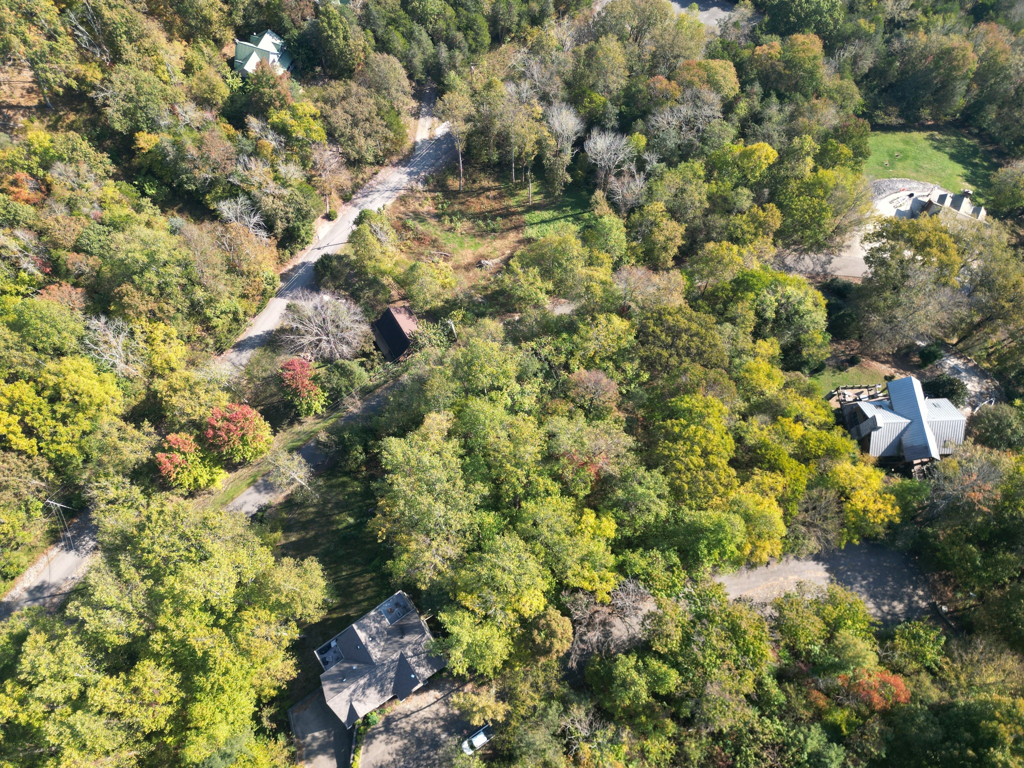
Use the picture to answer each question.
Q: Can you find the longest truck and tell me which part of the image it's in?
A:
bottom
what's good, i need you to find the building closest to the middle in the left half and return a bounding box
[374,305,430,369]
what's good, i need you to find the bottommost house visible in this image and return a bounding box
[316,593,455,731]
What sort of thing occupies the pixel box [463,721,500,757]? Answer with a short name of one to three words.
truck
